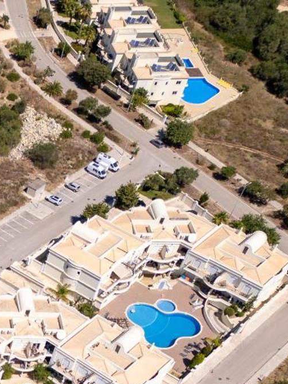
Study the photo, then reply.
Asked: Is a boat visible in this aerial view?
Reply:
No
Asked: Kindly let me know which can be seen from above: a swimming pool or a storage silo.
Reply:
swimming pool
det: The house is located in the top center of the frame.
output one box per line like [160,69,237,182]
[76,0,190,102]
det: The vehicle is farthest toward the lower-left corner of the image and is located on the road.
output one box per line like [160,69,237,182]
[44,194,62,206]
